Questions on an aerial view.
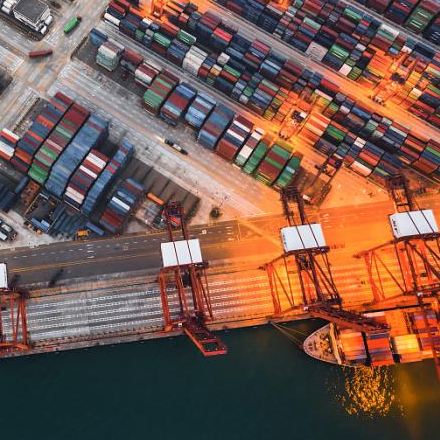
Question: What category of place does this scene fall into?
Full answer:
This image shows a port.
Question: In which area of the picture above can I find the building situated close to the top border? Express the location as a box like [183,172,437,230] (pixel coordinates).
[12,0,52,31]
